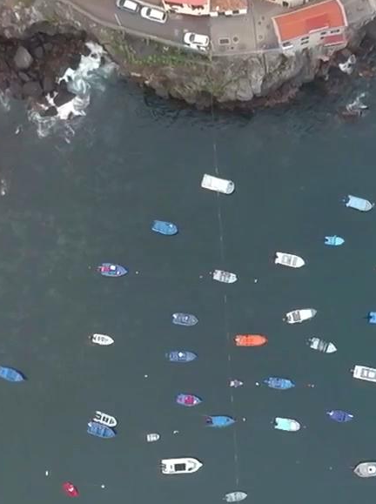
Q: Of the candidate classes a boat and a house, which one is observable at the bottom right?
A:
boat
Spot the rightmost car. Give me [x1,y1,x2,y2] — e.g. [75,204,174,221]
[183,29,209,45]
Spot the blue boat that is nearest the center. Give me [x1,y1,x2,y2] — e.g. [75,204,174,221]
[150,219,178,234]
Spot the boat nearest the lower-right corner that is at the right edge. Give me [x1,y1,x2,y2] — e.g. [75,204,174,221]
[354,462,376,478]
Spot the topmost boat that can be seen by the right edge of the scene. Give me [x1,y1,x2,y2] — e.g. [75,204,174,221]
[341,194,375,210]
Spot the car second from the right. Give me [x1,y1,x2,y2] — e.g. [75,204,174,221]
[138,4,167,23]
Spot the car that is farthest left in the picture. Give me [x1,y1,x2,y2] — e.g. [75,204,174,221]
[113,0,141,13]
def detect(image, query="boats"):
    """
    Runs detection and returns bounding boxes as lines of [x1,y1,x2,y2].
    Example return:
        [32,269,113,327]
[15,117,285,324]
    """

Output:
[94,263,128,276]
[156,458,203,475]
[86,334,113,345]
[220,492,246,503]
[270,251,305,266]
[162,351,195,361]
[166,312,198,324]
[229,380,242,386]
[324,235,345,245]
[62,480,77,495]
[354,462,376,478]
[341,194,375,210]
[150,219,178,234]
[347,365,376,381]
[82,421,114,435]
[363,311,376,323]
[175,394,202,406]
[203,416,235,428]
[280,310,316,324]
[230,334,267,346]
[213,270,238,282]
[147,433,159,441]
[0,365,23,380]
[269,417,300,430]
[262,377,293,389]
[90,409,117,426]
[304,336,336,351]
[201,174,233,192]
